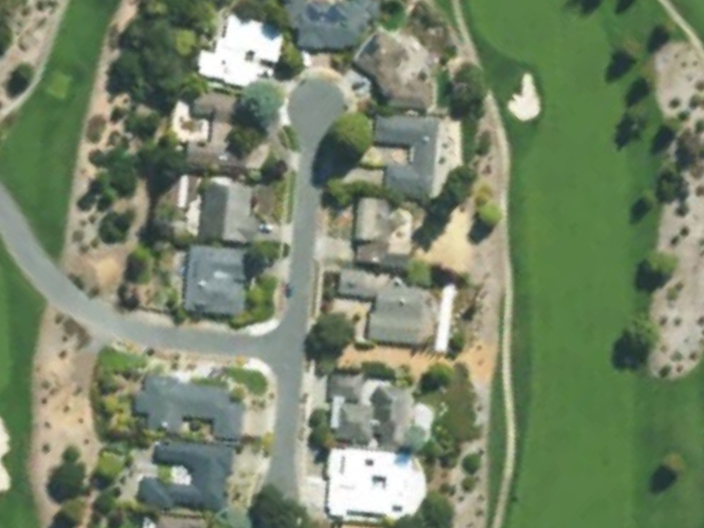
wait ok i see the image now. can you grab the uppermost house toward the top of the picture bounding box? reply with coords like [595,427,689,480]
[277,0,386,49]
